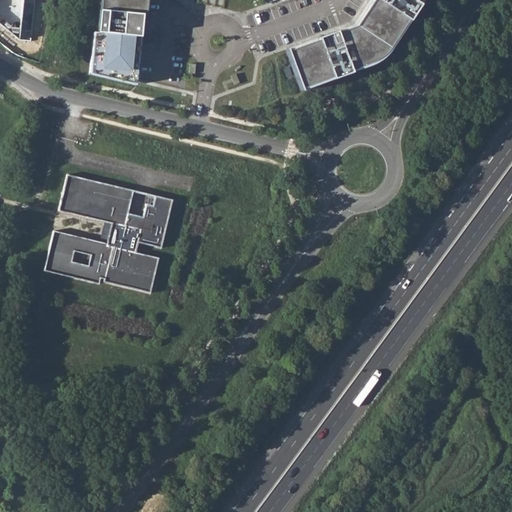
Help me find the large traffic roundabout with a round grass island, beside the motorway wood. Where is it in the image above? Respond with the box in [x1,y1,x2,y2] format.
[322,112,410,234]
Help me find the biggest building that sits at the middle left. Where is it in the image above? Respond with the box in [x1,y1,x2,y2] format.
[44,174,173,294]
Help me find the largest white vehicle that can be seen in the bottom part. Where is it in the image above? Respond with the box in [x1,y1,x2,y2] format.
[352,369,381,406]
